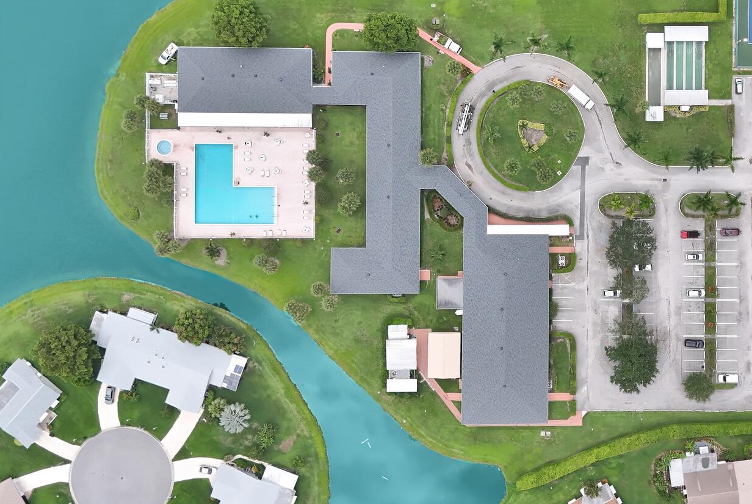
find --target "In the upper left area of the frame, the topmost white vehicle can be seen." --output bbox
[159,42,177,64]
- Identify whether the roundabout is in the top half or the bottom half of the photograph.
top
